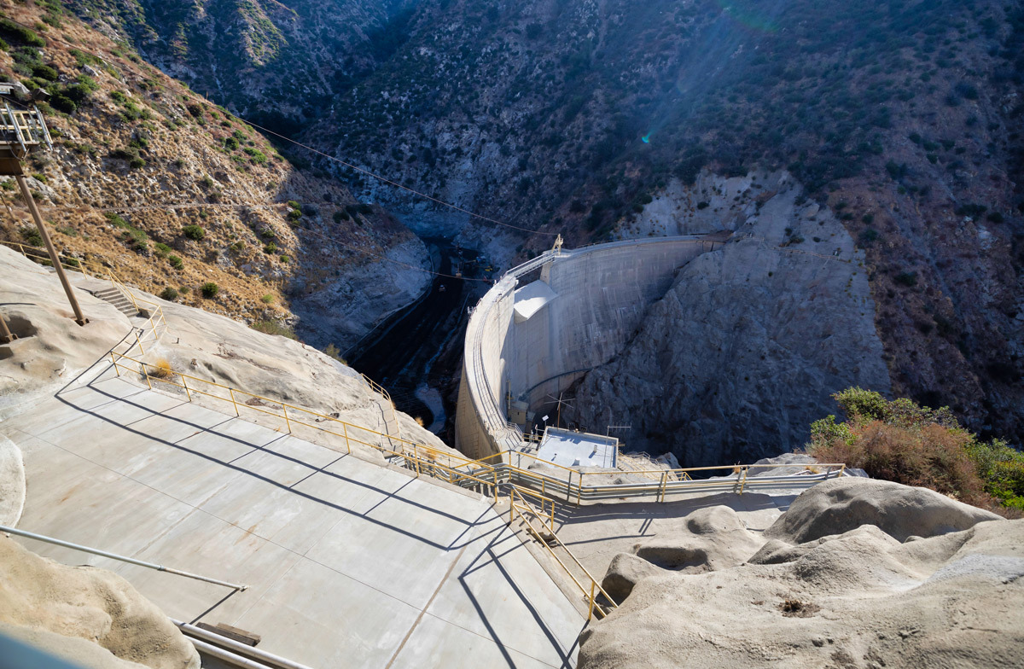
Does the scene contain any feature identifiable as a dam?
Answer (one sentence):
Yes, a dam appears in the view.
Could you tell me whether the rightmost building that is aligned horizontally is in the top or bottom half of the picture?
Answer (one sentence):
The rightmost building that is aligned horizontally sits in the bottom half of the picture.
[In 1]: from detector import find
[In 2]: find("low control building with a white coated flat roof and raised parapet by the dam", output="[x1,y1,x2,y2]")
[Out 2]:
[536,425,621,466]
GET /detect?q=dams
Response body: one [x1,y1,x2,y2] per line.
[459,233,738,463]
